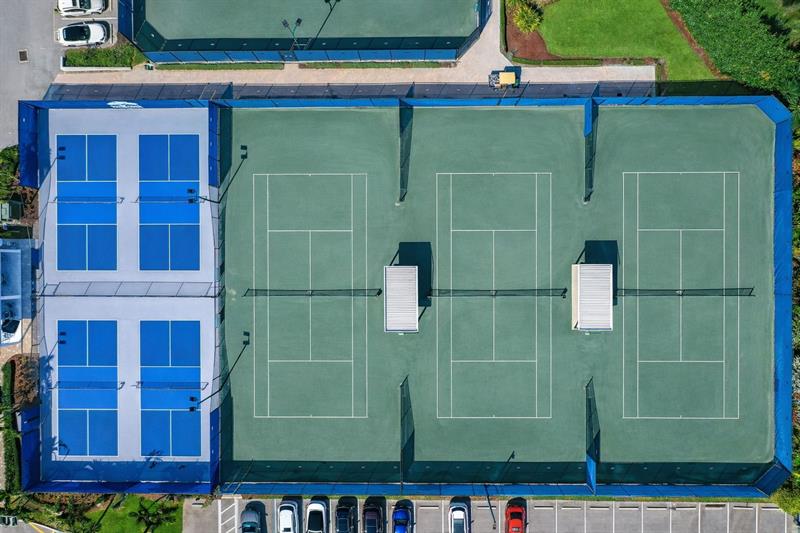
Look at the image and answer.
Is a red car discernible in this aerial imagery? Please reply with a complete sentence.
Yes, there is a red car in the image.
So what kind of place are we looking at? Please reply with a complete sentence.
The picture captures a sports ground.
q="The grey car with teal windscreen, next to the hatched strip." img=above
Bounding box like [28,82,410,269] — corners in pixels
[238,506,262,533]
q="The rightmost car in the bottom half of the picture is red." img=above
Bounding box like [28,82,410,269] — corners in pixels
[505,504,525,533]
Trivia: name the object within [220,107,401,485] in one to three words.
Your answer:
tennis court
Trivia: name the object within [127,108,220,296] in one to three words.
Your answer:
sports court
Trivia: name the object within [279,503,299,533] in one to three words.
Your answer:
car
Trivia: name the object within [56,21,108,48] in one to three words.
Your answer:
car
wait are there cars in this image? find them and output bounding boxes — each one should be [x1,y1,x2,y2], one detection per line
[279,503,299,533]
[238,506,262,533]
[334,504,355,533]
[54,0,108,19]
[56,21,108,48]
[391,507,413,533]
[505,504,525,533]
[362,504,382,533]
[306,503,327,533]
[448,503,469,533]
